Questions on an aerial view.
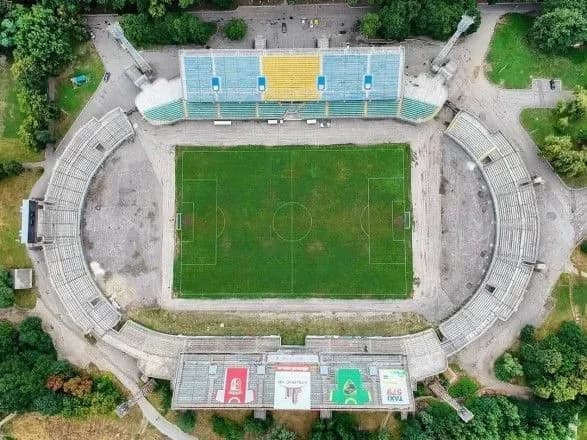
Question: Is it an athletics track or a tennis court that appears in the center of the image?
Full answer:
Visible in the center of the image is an athletics track.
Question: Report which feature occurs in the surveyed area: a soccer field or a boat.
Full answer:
I can see a soccer field in this picture.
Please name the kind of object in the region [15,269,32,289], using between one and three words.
shed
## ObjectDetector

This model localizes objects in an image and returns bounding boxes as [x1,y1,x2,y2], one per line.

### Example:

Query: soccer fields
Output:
[172,144,413,299]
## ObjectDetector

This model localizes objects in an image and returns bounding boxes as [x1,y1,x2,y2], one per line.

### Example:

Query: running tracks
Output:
[139,122,450,321]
